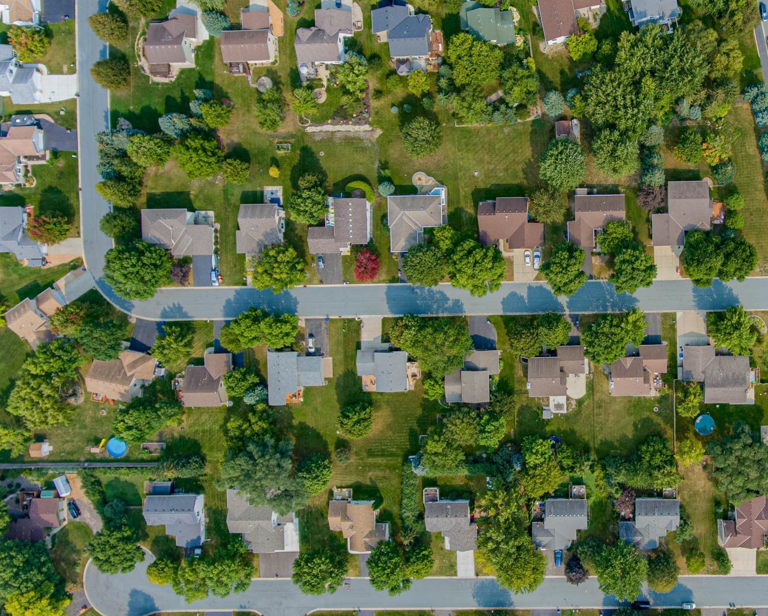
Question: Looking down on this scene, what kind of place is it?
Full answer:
This looks like a residential area.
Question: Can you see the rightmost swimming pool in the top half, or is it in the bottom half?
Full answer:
The bottom half of the photo is where the rightmost swimming pool is.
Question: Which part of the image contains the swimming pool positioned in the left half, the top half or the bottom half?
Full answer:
It is in the bottom half that the swimming pool positioned in the left half appears.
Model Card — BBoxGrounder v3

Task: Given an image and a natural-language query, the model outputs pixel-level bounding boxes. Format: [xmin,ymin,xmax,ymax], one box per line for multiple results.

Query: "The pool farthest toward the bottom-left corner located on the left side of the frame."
[107,435,129,458]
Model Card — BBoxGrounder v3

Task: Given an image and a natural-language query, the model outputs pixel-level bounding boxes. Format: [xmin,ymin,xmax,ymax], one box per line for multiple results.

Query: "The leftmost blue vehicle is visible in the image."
[68,499,81,519]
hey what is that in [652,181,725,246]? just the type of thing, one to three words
house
